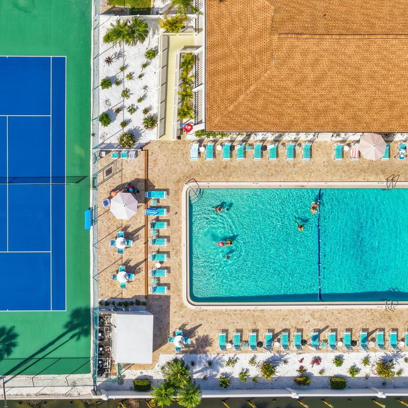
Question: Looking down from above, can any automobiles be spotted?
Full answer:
No, the photo shows no automobile.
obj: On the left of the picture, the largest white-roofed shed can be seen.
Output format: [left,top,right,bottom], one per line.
[102,309,153,363]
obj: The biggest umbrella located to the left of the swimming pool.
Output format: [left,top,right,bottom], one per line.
[110,192,136,219]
